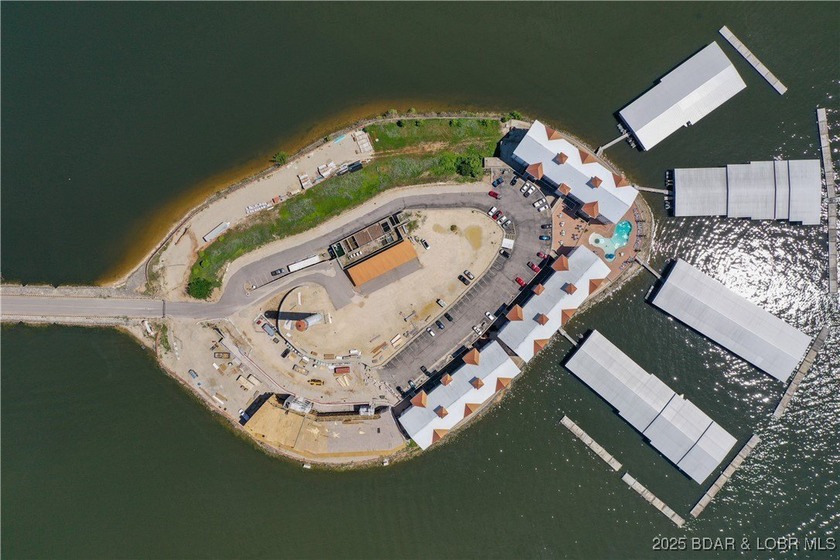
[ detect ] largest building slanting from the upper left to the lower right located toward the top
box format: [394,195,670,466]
[513,121,638,224]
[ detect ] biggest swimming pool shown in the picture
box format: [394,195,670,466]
[589,220,633,262]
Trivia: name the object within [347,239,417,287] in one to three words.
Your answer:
shed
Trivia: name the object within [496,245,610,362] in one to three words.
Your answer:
building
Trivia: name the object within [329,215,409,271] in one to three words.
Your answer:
building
